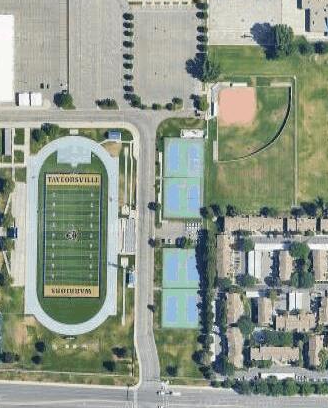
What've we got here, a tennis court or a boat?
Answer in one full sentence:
Visible in the photo is a tennis court.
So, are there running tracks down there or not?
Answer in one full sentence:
Yes, a running track appears in the view.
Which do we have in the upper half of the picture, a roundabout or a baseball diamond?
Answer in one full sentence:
There is a baseball diamond in the upper half of the picture.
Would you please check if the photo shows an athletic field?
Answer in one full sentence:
Yes, looking at the shot, I can spot an athletic field.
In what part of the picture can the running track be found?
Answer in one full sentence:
You can find the running track in the left area of the picture.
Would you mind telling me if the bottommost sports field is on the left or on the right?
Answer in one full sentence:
The bottommost sports field is on the left side of the image.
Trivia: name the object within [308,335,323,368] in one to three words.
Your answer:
building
